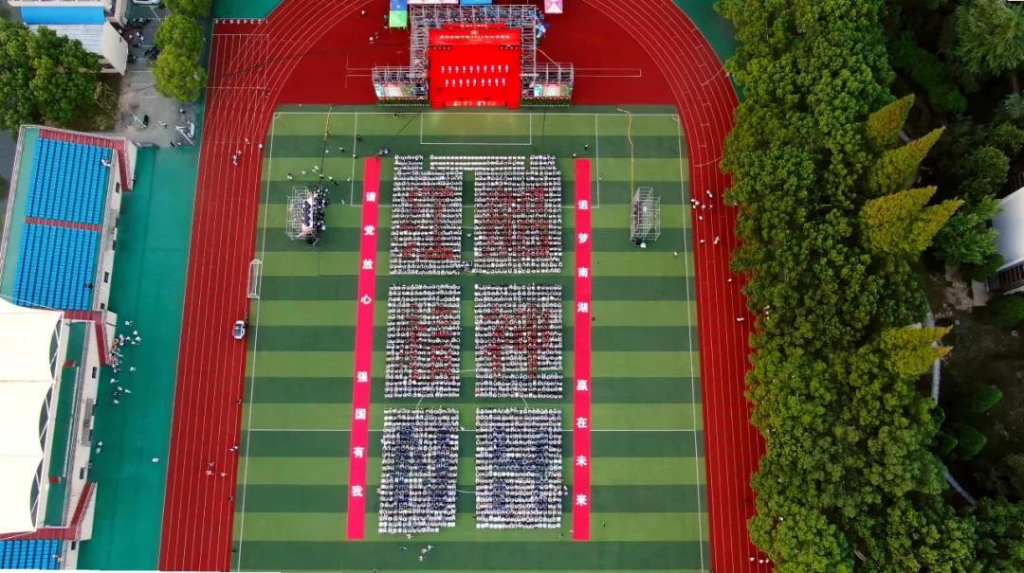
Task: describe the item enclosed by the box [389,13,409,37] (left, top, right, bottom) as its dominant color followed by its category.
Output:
green tent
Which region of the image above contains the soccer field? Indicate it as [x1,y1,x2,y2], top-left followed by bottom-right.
[230,105,711,573]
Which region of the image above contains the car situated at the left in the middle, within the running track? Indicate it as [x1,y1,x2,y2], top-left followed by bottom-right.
[232,319,247,340]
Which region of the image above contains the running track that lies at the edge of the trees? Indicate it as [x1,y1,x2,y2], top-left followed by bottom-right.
[157,0,777,573]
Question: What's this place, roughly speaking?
sports ground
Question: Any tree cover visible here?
Yes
